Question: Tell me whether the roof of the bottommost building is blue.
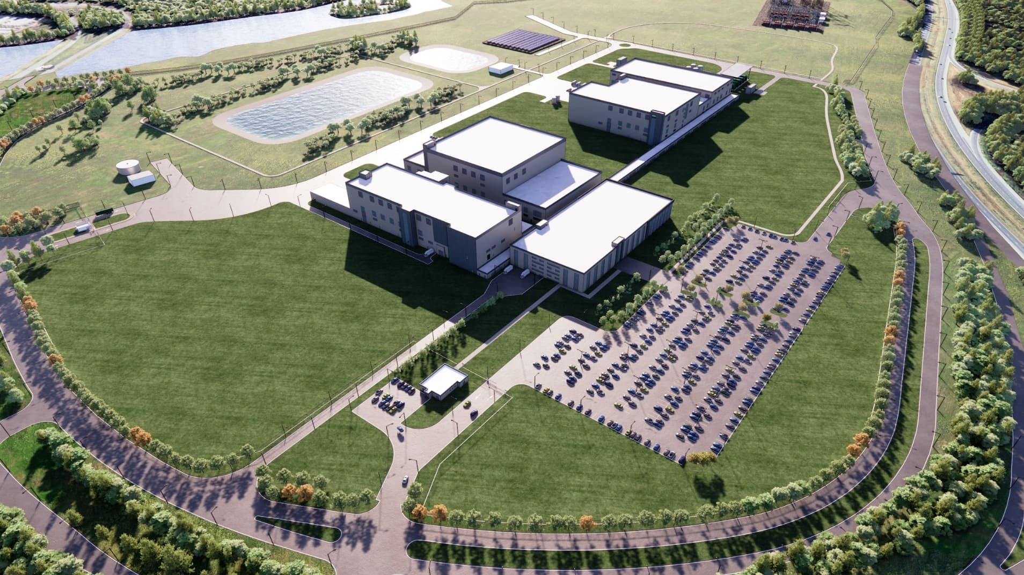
No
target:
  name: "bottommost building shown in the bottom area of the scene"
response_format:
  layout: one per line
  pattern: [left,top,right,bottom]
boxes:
[419,364,469,401]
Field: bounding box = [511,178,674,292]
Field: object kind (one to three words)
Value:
building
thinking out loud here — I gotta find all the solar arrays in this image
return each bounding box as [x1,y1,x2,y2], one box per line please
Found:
[482,28,564,53]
